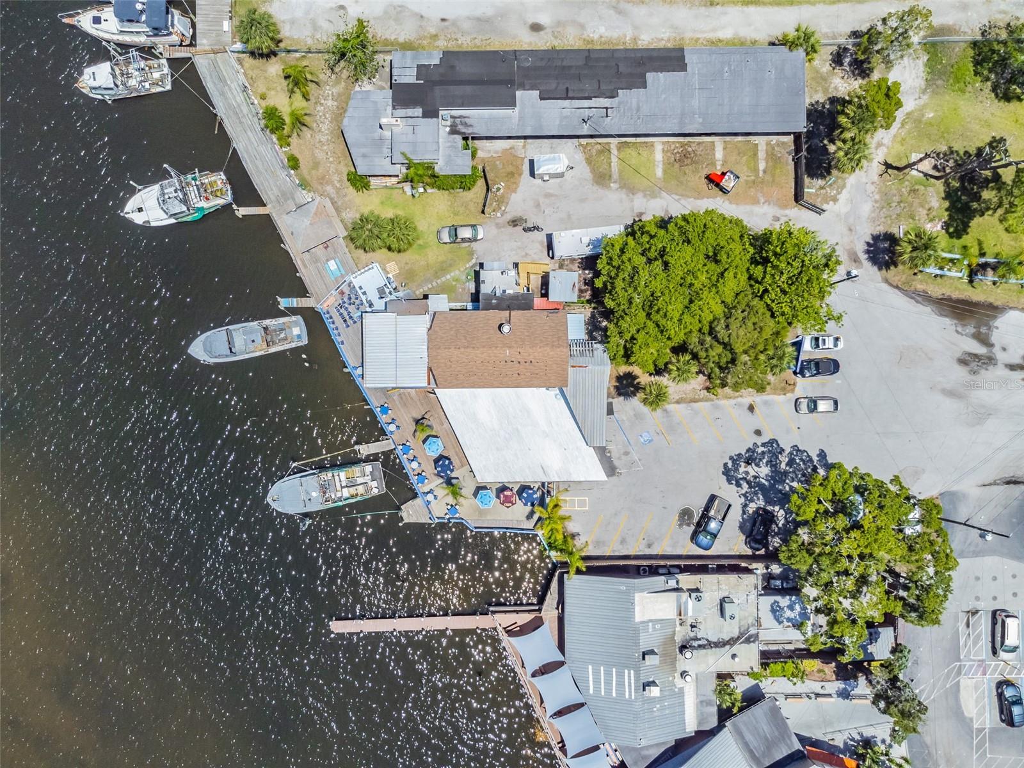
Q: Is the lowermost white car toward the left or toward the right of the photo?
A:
right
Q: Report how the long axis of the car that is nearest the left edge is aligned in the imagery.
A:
from side to side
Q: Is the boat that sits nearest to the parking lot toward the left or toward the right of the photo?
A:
left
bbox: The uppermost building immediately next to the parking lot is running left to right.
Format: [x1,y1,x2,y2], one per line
[391,46,806,178]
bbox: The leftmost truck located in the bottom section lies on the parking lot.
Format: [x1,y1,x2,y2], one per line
[692,491,729,550]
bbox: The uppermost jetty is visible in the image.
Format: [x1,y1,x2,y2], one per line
[196,0,232,49]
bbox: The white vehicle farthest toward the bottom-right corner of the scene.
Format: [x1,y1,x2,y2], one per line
[989,611,1018,658]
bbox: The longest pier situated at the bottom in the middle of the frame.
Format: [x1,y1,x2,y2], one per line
[331,615,496,632]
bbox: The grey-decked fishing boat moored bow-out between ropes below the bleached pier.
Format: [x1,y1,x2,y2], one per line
[267,462,386,513]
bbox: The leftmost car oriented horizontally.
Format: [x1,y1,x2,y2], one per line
[437,223,484,245]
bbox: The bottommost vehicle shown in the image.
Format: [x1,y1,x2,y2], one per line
[994,679,1022,727]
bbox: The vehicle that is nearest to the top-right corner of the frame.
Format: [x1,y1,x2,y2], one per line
[705,169,740,195]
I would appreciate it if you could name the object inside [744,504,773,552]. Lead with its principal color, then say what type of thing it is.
black car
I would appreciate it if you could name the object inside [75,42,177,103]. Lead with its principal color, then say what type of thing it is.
white boat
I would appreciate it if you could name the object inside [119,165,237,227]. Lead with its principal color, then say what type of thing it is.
white boat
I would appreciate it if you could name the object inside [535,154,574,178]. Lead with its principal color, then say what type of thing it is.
white trailer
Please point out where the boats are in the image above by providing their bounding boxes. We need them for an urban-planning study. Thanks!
[267,462,386,513]
[188,315,309,364]
[75,42,177,103]
[59,0,196,51]
[119,165,237,227]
